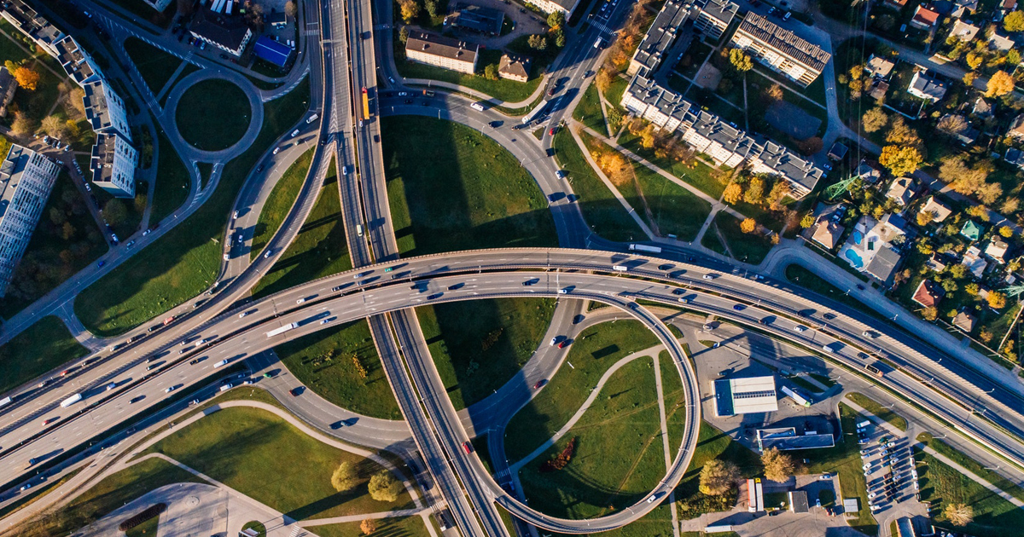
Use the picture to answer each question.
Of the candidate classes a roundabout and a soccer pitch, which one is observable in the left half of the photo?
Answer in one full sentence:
Looking in the left half of the photo, you will find a roundabout.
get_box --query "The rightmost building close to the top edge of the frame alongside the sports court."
[732,10,831,84]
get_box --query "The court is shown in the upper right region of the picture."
[764,99,822,139]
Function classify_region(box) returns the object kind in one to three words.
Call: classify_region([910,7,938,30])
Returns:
house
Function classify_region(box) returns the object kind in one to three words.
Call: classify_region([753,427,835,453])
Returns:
building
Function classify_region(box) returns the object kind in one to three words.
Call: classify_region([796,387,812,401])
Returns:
vehicle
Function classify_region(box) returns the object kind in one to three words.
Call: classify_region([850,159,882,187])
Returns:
house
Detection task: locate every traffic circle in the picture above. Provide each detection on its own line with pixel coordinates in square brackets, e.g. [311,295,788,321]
[164,69,261,160]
